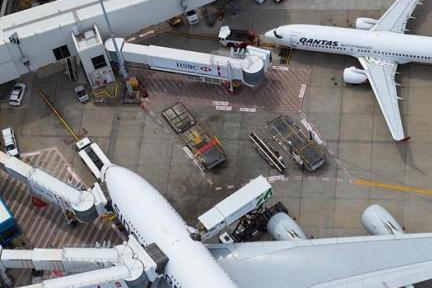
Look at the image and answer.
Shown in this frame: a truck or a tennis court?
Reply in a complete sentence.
The one in the frame is a truck.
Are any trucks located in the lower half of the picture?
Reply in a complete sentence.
Yes, a truck appears in the lower half of the picture.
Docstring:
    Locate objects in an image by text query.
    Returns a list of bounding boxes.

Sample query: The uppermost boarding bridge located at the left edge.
[0,145,110,231]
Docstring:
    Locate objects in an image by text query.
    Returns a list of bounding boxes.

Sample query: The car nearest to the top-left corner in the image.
[8,83,25,105]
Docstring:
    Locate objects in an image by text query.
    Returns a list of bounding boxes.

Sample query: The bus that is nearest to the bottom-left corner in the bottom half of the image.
[0,203,22,248]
